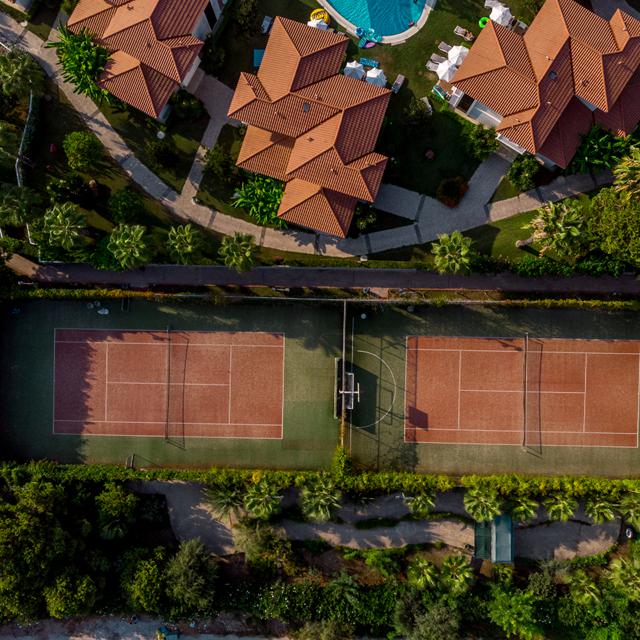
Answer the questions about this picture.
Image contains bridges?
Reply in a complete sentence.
No, the picture doesn't show any bridge.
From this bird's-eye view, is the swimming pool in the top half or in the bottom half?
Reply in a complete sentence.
It is in the top half that the swimming pool appears.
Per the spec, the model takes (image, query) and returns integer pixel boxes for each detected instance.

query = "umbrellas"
[433,58,459,84]
[364,65,388,87]
[445,43,468,68]
[489,3,513,27]
[342,58,366,80]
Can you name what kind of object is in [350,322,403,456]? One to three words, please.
basketball court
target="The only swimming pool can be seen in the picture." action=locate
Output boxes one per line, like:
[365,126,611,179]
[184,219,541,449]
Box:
[322,0,437,44]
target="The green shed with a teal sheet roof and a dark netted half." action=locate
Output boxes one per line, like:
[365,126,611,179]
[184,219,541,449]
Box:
[471,509,518,569]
